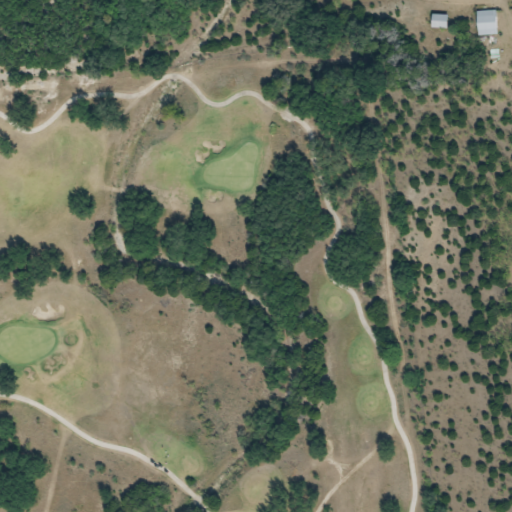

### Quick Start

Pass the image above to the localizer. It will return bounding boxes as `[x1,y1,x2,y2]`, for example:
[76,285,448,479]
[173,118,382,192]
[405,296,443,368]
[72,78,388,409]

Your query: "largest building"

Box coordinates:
[477,10,498,34]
